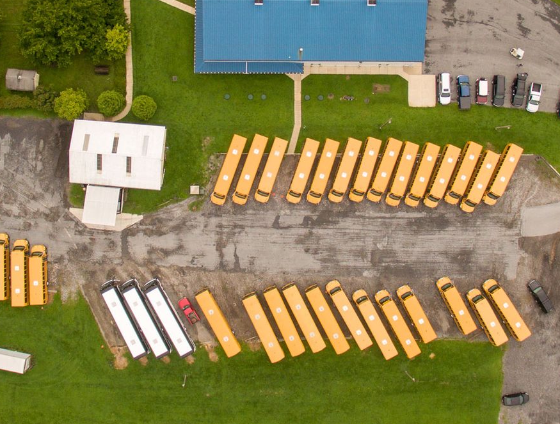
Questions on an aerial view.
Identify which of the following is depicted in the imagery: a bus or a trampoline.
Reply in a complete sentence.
This aerial view contains a bus.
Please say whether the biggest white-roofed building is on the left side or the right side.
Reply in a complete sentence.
It is on the left.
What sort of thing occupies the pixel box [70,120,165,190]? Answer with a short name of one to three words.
building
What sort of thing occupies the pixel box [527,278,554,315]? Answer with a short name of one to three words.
truck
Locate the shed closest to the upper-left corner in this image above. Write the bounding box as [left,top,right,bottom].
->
[6,70,39,91]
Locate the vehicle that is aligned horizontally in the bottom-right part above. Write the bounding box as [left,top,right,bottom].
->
[500,391,530,405]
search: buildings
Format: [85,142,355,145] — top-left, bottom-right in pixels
[70,120,165,190]
[6,70,39,91]
[191,0,428,76]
